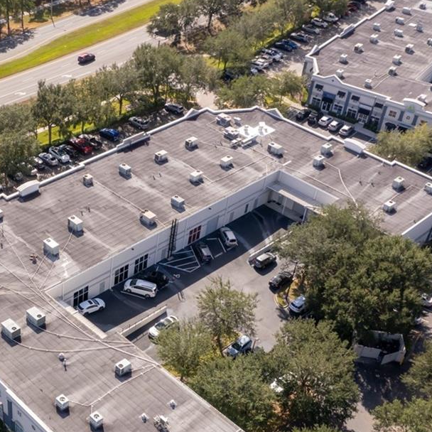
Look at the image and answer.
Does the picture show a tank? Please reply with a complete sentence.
No, the frame has no tank in it.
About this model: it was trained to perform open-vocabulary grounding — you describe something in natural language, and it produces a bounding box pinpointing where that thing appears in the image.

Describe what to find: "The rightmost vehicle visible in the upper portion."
[419,158,432,170]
